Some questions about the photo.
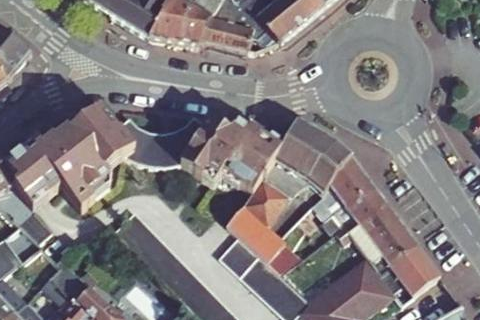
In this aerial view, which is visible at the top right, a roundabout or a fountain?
roundabout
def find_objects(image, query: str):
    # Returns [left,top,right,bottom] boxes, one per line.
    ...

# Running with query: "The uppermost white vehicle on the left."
[128,46,148,59]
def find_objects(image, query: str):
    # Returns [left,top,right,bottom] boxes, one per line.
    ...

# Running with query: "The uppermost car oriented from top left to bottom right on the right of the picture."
[360,122,380,138]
